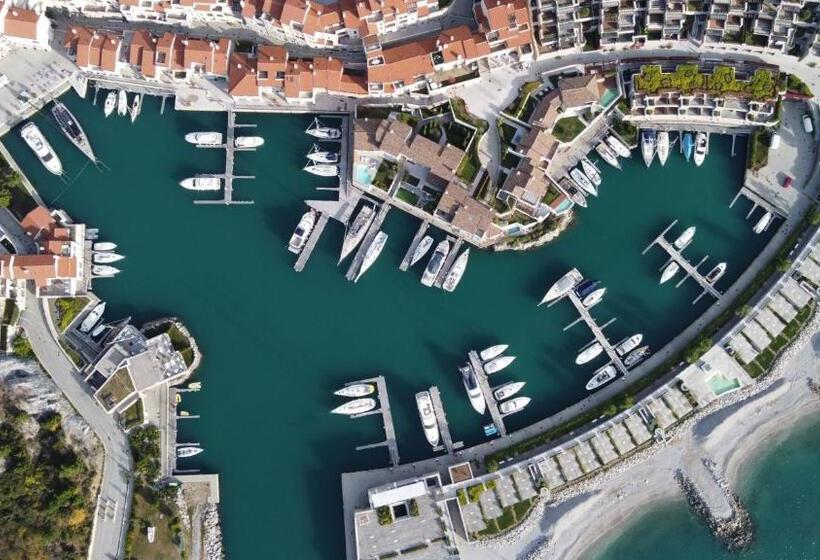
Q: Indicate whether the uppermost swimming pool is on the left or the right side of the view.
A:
right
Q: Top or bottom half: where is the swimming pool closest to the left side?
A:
top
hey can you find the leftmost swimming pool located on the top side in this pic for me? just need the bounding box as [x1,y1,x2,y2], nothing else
[353,151,384,187]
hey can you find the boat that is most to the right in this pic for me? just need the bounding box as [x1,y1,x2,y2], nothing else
[752,213,771,236]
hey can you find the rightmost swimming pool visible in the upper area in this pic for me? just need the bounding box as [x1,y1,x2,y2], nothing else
[597,74,620,107]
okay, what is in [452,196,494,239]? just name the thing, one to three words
house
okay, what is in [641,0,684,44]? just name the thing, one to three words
building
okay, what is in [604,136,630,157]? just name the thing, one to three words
boat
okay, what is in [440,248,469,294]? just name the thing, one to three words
boat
